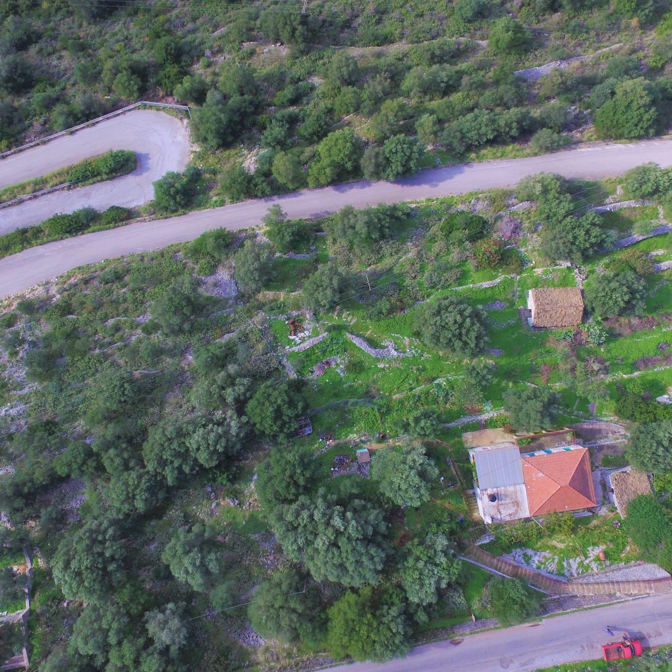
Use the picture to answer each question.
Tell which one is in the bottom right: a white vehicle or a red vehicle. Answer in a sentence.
Visible in the bottom right is a red vehicle.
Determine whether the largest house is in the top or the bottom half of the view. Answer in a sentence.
The largest house is in the bottom half of the image.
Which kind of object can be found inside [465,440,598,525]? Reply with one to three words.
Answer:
house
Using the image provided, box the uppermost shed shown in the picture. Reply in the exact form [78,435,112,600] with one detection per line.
[527,287,585,326]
